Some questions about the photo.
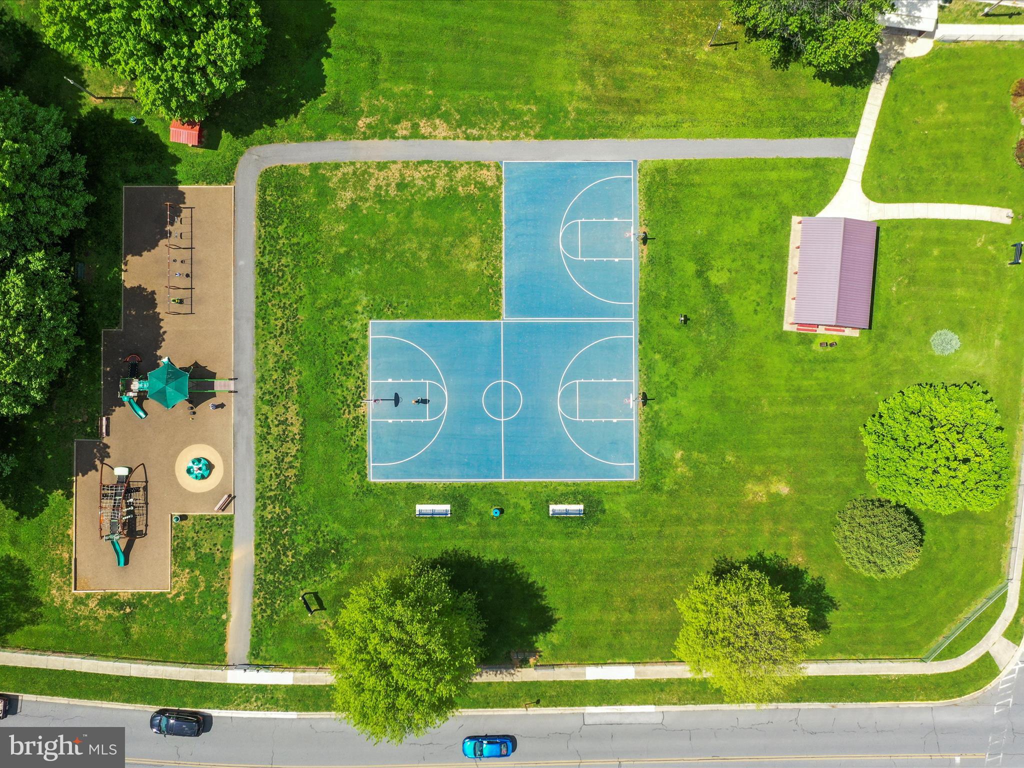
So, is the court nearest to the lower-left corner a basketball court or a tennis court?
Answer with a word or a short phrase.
basketball court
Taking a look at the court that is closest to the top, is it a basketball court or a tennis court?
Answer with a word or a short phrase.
basketball court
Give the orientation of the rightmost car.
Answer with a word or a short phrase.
from side to side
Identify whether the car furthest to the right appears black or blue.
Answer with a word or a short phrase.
blue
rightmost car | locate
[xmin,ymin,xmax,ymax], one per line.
[464,732,513,758]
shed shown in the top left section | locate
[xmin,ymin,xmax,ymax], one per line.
[168,118,206,150]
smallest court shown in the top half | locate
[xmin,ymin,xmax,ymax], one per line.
[502,160,640,320]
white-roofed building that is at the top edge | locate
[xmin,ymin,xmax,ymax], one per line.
[876,0,939,38]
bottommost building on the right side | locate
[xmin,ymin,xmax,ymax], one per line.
[784,216,876,336]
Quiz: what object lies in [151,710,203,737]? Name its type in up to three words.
car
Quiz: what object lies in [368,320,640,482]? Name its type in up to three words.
basketball court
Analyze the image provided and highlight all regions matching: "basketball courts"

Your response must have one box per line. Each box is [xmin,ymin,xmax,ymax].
[502,160,640,320]
[368,320,640,482]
